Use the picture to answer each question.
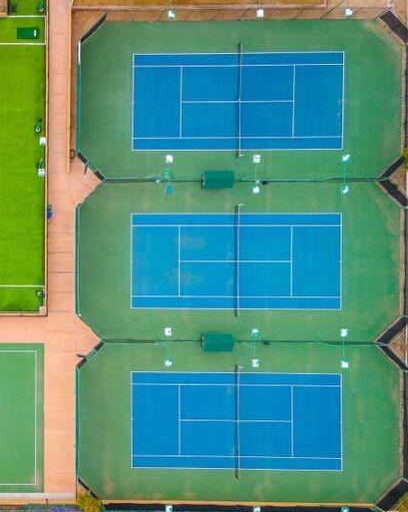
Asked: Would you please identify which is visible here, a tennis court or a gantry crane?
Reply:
tennis court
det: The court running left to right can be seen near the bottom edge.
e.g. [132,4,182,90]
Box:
[80,344,402,502]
